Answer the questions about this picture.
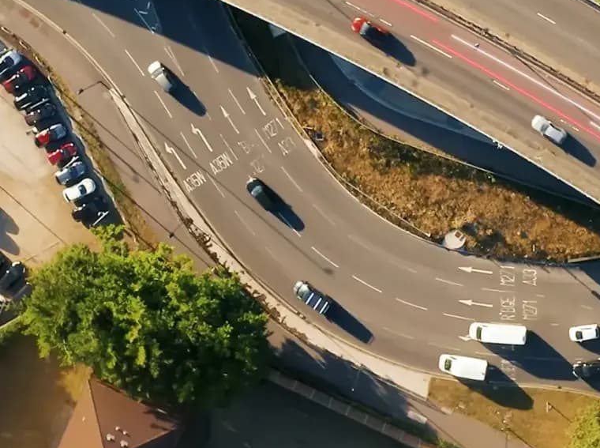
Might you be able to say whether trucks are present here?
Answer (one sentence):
Yes, a truck appears in the view.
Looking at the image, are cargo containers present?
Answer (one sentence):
No, this view has no cargo container in it.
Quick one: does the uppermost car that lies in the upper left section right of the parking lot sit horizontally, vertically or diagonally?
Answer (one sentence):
The uppermost car that lies in the upper left section right of the parking lot is oriented diagonally.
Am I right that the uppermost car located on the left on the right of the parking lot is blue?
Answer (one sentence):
No, the uppermost car located on the left on the right of the parking lot is actually white.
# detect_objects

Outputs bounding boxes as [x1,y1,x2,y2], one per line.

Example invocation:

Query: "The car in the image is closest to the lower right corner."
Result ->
[573,359,600,378]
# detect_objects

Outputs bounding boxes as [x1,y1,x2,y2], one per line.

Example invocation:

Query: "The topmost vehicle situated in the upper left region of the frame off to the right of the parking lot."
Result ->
[144,59,175,95]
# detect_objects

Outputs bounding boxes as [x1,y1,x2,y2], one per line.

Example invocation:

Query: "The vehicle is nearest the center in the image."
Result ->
[243,178,273,212]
